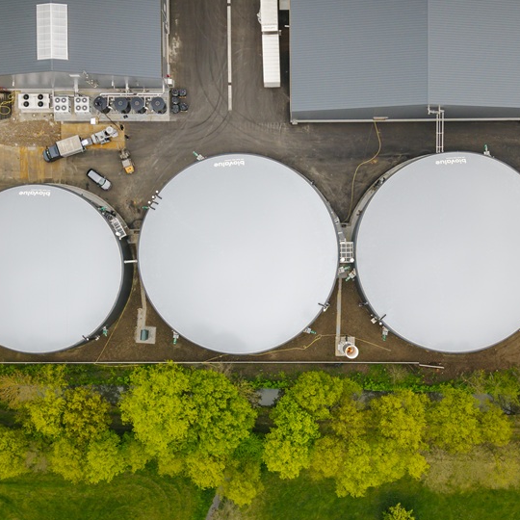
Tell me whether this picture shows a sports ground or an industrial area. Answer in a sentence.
What you see here is an industrial area.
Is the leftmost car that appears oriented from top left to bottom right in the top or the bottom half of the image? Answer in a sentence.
The leftmost car that appears oriented from top left to bottom right is in the top half of the image.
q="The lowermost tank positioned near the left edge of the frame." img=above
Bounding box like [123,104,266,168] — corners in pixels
[0,183,139,355]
